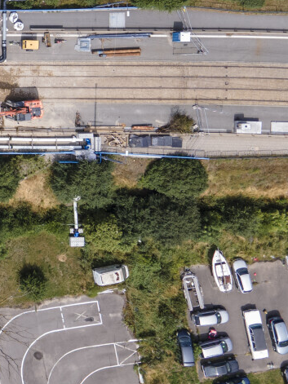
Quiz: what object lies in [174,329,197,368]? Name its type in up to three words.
car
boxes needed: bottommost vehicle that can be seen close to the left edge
[0,98,46,123]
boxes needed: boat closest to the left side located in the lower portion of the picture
[181,264,204,312]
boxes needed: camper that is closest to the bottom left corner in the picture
[88,261,126,285]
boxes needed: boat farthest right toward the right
[210,244,233,293]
